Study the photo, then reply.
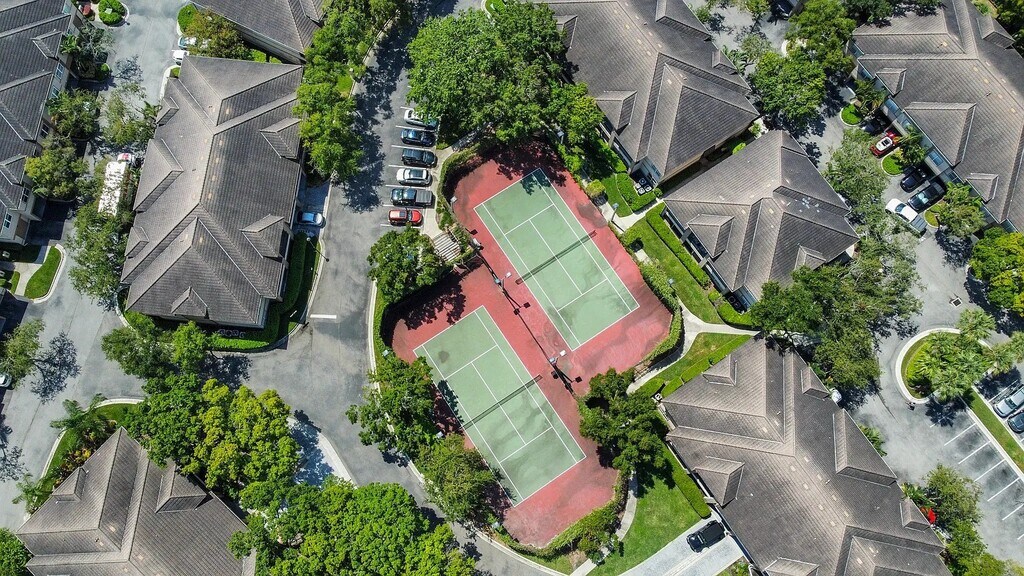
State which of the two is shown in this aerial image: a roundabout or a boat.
roundabout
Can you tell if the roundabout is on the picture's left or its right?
right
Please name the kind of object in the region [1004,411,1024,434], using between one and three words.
car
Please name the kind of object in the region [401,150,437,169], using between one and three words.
car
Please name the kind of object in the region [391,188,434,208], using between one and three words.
vehicle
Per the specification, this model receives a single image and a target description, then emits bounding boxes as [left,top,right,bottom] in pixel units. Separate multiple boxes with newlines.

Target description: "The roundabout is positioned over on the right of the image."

[895,328,997,406]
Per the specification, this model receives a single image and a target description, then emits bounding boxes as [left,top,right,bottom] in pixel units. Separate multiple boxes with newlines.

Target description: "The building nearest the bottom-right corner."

[659,335,950,576]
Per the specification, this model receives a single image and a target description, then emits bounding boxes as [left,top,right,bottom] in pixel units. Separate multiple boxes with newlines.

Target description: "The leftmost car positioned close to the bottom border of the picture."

[685,523,726,551]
